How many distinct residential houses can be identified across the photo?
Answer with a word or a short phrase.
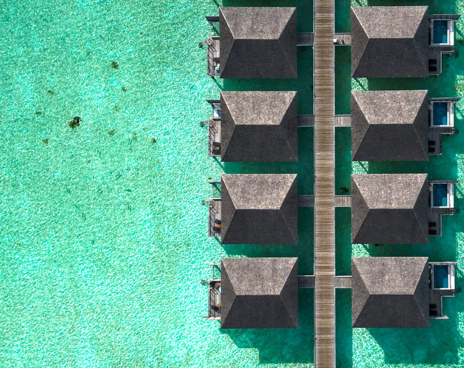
8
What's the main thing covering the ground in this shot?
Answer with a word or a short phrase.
water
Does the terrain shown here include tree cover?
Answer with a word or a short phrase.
No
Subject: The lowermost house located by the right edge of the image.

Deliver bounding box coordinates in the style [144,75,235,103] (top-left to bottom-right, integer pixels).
[352,256,462,329]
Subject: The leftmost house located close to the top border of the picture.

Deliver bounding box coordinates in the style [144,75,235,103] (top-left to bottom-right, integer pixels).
[201,6,297,79]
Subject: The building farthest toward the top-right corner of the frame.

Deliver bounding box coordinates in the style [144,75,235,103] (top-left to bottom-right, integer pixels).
[351,5,461,78]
